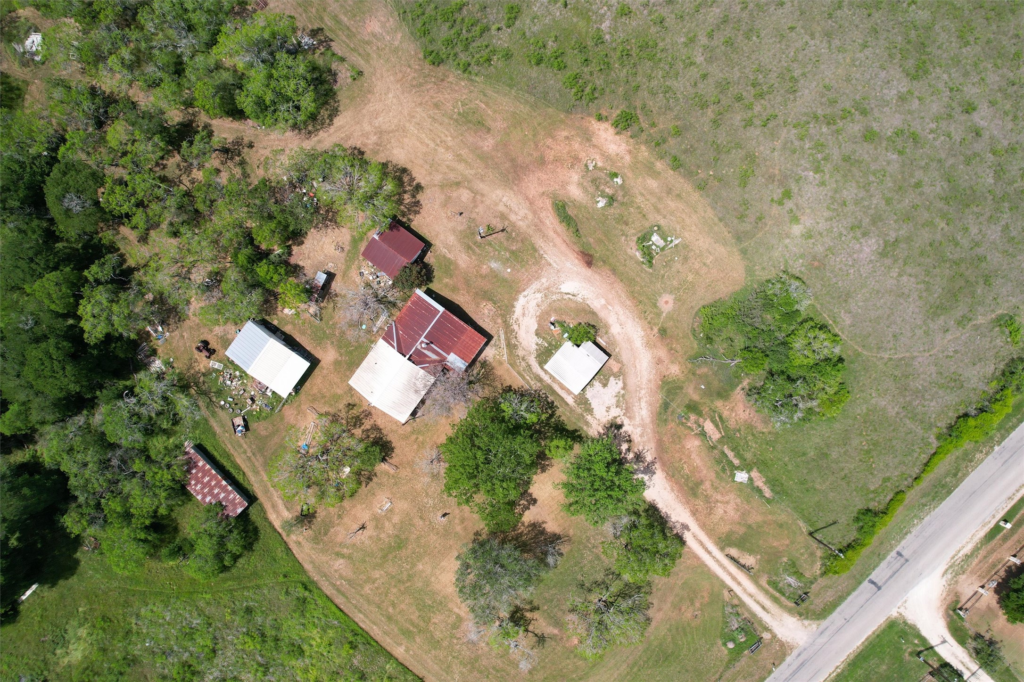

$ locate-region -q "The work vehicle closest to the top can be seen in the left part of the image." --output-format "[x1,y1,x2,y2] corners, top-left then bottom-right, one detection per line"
[192,339,216,361]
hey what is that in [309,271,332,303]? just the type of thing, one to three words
shed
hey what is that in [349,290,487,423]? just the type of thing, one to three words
house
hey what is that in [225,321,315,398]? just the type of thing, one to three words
building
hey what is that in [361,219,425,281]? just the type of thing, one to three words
house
